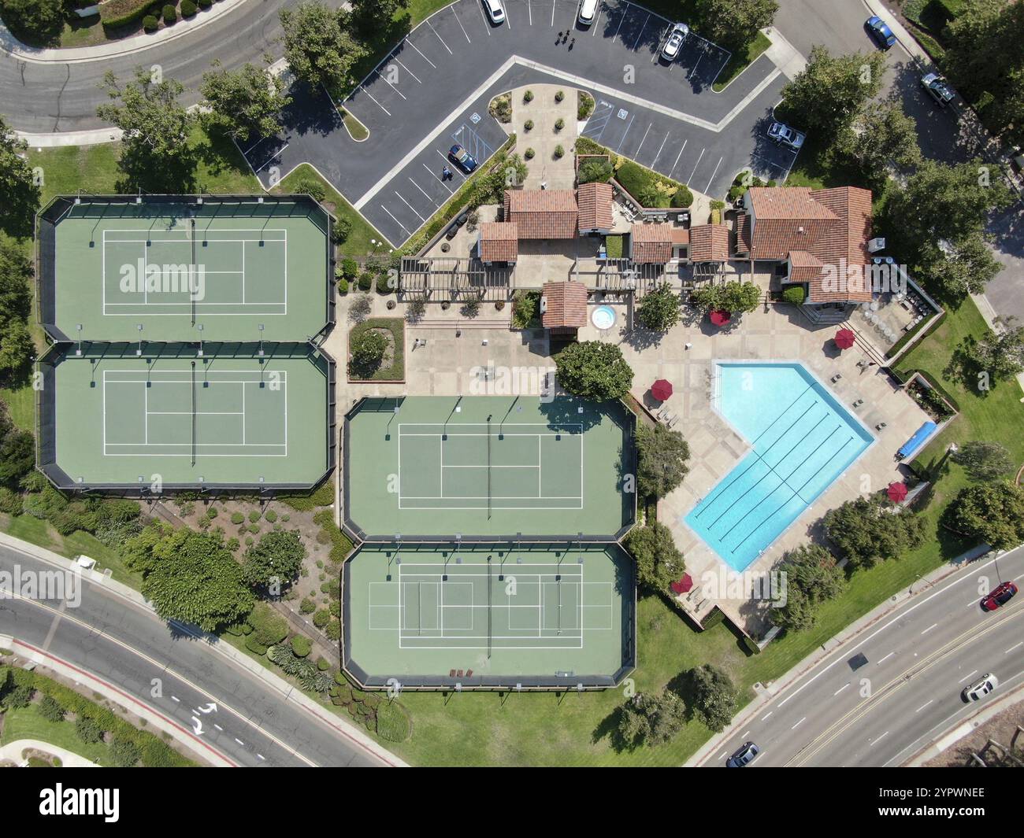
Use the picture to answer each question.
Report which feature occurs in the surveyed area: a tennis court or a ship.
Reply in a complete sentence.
It is a tennis court that can be seen here.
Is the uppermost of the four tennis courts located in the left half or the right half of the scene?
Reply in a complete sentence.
The uppermost of the four tennis courts sits on the left side.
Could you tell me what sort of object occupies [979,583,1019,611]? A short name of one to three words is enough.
car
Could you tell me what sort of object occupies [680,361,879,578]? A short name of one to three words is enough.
swimming pool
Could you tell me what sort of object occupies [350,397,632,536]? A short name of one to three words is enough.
tennis court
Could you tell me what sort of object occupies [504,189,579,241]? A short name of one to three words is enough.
building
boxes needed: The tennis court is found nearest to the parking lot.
[55,202,330,342]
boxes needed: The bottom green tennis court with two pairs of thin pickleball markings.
[350,541,632,676]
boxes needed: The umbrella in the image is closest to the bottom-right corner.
[885,482,906,502]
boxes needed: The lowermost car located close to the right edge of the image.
[961,673,1000,702]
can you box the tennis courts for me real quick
[55,202,330,342]
[55,343,334,484]
[350,541,632,676]
[350,397,632,536]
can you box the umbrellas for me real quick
[832,328,853,349]
[885,482,906,502]
[708,309,729,327]
[670,572,692,593]
[651,379,671,400]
